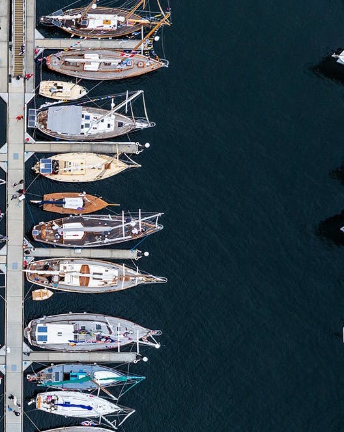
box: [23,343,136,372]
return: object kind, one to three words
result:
pier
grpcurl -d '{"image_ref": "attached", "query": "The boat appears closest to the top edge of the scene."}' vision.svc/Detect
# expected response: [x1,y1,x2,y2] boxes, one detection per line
[40,0,169,42]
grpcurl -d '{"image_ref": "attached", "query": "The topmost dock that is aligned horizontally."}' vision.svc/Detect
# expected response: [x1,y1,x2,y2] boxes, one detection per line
[36,28,145,58]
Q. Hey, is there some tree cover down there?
No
